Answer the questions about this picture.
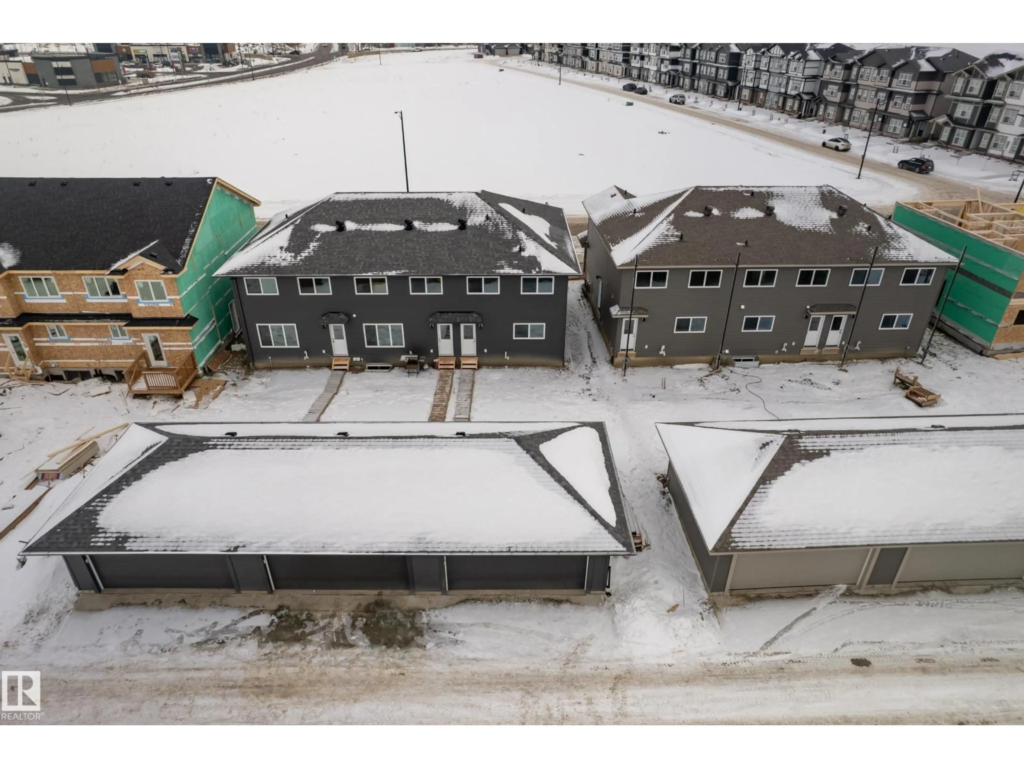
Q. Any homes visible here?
Yes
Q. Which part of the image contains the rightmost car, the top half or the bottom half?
top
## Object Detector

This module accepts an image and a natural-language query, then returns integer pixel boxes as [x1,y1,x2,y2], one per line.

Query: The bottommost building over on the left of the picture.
[16,420,636,611]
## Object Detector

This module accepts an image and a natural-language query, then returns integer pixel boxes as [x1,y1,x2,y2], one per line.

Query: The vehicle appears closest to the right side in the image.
[896,153,938,173]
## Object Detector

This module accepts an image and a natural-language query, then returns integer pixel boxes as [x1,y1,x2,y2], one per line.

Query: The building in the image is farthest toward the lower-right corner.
[654,412,1024,604]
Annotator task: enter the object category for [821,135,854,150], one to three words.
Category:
car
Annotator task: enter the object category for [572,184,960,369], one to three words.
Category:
house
